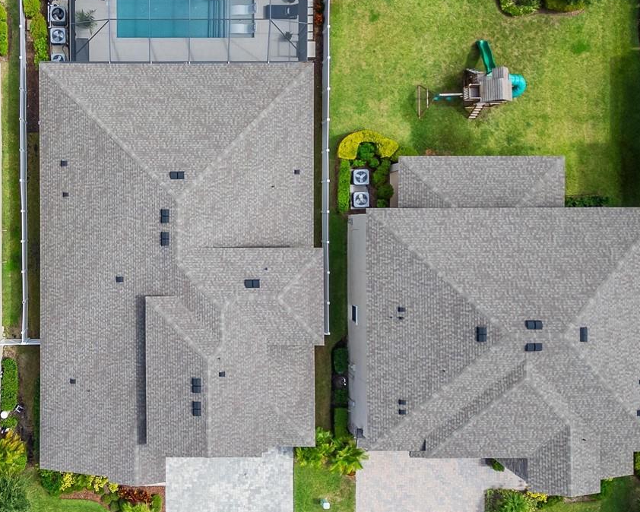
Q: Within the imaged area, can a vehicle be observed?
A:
No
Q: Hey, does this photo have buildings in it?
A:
Yes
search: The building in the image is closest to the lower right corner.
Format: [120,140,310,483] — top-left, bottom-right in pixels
[349,154,640,498]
